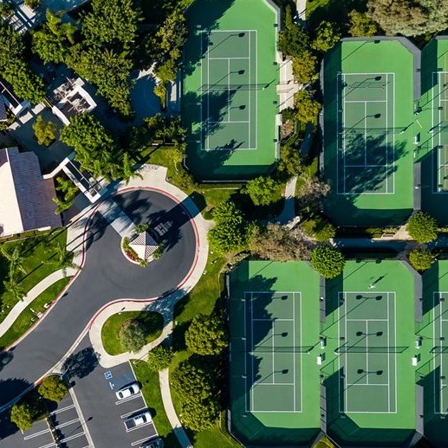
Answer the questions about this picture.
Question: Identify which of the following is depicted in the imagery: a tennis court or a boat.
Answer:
tennis court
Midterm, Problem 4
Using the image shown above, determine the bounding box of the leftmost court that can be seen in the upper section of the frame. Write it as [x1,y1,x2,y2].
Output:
[186,0,280,180]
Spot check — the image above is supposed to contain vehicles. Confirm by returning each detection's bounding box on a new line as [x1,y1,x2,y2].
[124,412,152,429]
[116,383,140,399]
[139,438,164,448]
